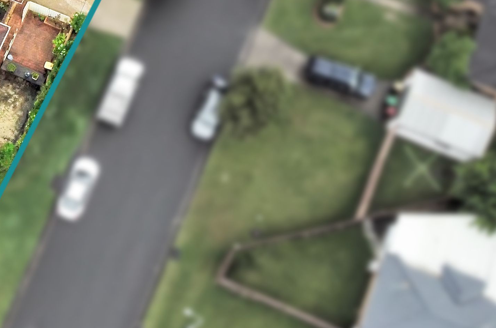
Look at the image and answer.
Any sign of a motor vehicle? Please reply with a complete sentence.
Yes, a motor vehicle is visible in the scene.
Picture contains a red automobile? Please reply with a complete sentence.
No, there isn't any red automobile down there.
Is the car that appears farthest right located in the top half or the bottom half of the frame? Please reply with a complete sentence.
You can find the car that appears farthest right in the top half.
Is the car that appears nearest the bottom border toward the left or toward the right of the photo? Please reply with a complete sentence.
The car that appears nearest the bottom border sits on the left side.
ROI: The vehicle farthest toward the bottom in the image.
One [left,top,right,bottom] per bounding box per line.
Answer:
[56,158,99,222]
